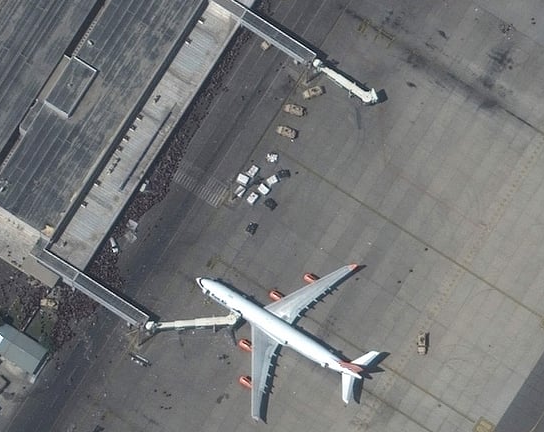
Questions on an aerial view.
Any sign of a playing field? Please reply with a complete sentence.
No, the scene contains no playing field.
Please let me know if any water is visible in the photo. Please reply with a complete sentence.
No, water can't be seen anywhere here.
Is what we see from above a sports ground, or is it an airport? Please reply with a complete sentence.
It's an airport.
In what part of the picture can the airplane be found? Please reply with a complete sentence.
The airplane is in the bottom part of the image.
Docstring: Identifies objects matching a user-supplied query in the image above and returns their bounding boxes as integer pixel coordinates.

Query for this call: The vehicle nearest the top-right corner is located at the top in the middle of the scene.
[304,86,324,100]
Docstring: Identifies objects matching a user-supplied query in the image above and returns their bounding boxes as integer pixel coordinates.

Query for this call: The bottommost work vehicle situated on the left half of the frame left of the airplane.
[130,352,149,366]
